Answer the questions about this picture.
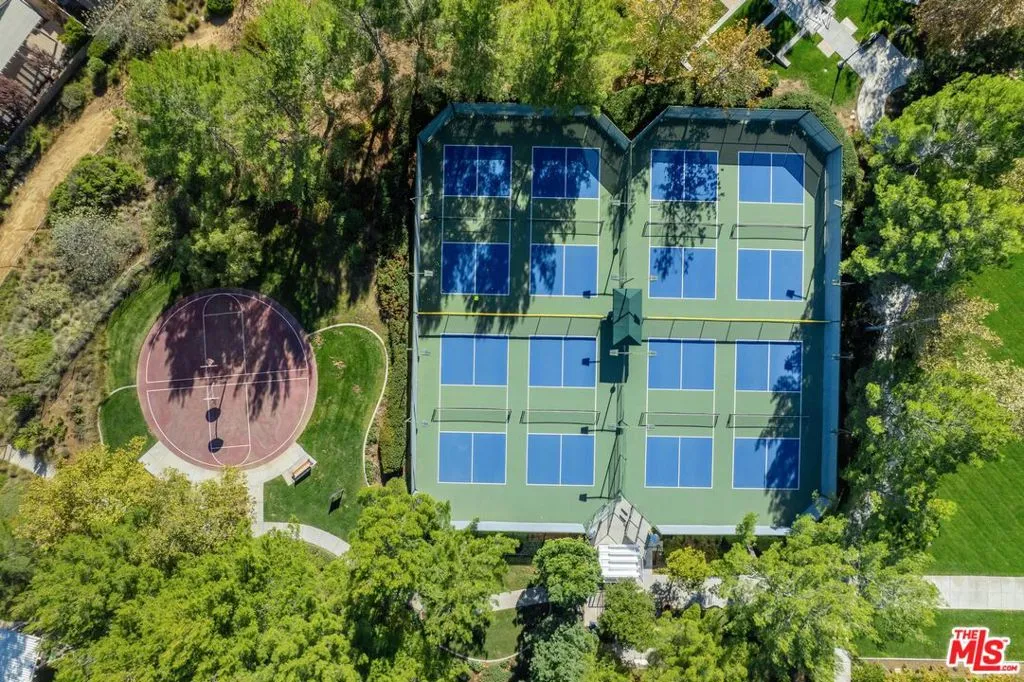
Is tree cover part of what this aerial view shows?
Yes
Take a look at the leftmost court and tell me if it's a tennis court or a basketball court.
basketball court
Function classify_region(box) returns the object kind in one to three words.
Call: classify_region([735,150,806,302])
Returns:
sports court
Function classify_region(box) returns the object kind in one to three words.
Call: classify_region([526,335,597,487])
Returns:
sports court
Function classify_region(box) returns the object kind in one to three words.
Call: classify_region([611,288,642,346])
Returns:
building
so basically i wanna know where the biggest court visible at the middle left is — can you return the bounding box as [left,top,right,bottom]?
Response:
[137,288,318,470]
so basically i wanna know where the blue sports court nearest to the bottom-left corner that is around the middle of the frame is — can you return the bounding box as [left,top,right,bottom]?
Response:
[437,334,509,485]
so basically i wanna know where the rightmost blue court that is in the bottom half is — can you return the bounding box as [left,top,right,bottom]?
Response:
[732,339,803,490]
